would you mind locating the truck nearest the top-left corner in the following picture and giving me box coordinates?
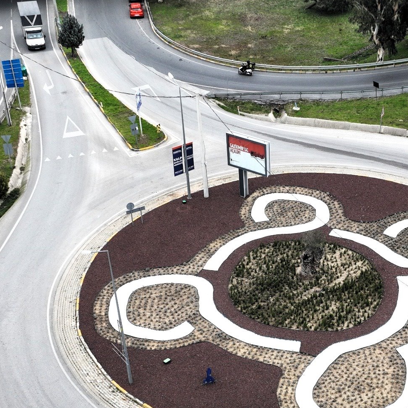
[19,2,45,48]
